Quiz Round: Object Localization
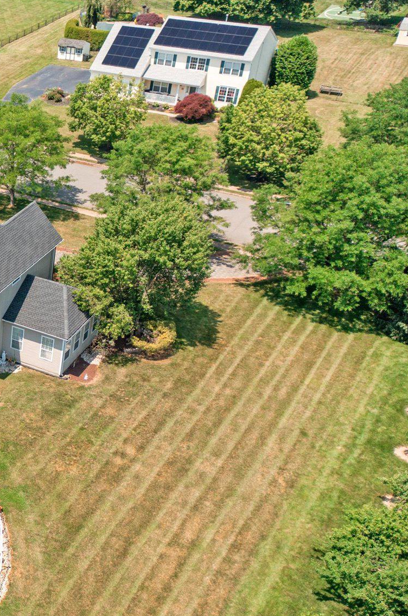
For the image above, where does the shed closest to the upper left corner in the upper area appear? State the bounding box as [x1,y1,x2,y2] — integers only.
[59,39,89,61]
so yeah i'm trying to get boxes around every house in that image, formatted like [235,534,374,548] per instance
[396,13,408,47]
[0,201,105,376]
[94,11,278,105]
